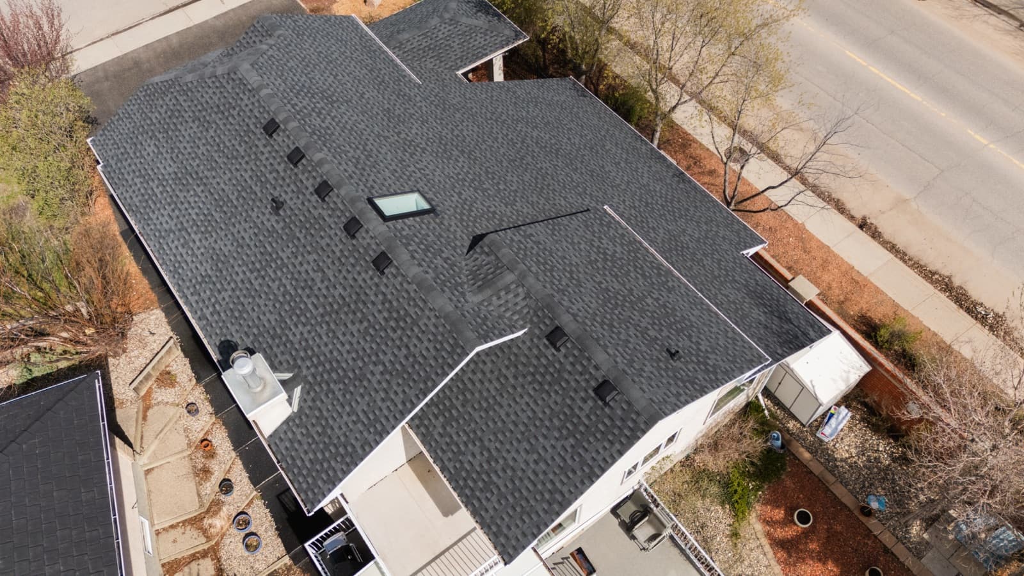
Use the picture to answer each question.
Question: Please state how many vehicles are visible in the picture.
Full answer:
There are no vehicles in this view.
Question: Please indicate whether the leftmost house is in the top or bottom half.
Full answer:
It is in the bottom half that the leftmost house appears.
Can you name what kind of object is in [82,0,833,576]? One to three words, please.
house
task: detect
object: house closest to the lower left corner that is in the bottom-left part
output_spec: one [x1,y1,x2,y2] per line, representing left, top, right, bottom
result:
[0,370,157,576]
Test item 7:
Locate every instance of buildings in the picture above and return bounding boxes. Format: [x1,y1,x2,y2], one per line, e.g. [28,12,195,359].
[82,0,833,576]
[0,370,157,576]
